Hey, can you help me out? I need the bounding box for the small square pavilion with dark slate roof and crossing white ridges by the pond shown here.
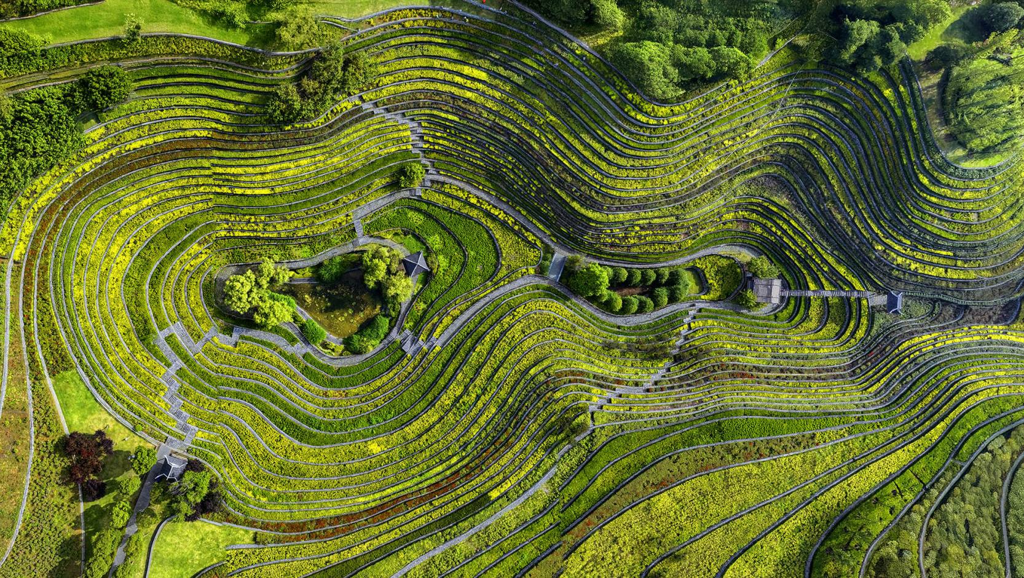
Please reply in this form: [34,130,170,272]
[402,251,430,279]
